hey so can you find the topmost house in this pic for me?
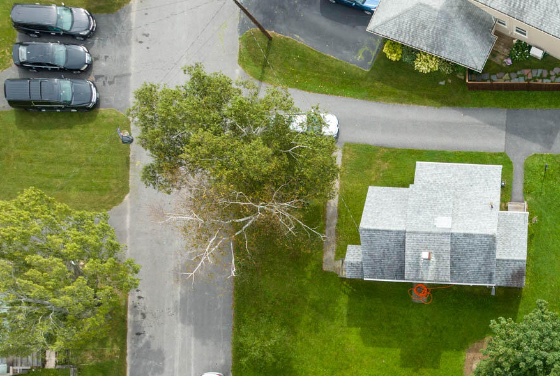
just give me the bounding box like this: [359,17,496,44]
[366,0,560,80]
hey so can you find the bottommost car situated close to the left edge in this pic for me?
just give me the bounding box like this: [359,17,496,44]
[0,75,99,114]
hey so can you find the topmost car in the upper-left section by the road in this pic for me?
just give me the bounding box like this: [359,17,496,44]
[7,4,97,44]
